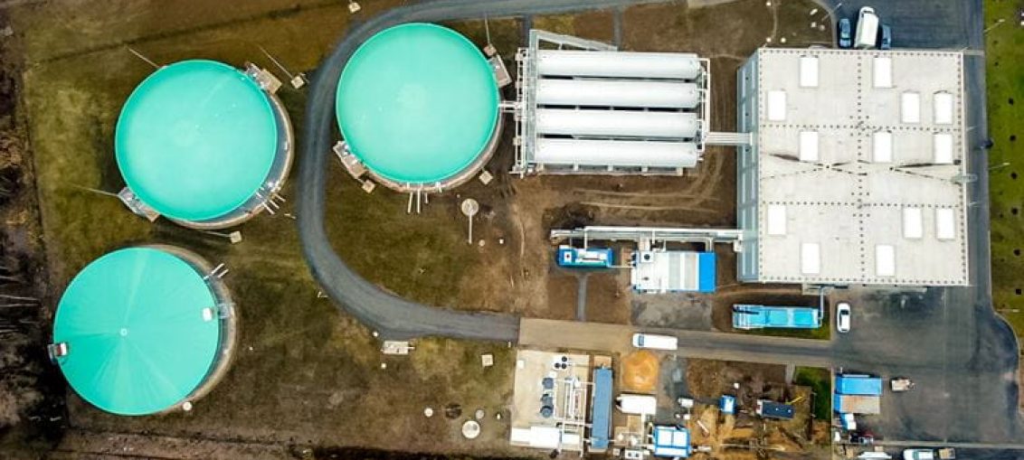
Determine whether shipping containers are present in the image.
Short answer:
Yes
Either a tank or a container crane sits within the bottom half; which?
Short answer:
tank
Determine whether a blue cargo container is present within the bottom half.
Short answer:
Yes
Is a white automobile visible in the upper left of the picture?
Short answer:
No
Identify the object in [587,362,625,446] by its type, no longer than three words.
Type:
shipping container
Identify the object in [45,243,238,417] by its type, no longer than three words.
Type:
storage tank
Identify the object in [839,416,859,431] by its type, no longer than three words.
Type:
vehicle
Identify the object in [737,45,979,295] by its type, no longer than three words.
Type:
building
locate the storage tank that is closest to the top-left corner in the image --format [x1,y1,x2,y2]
[116,61,297,228]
